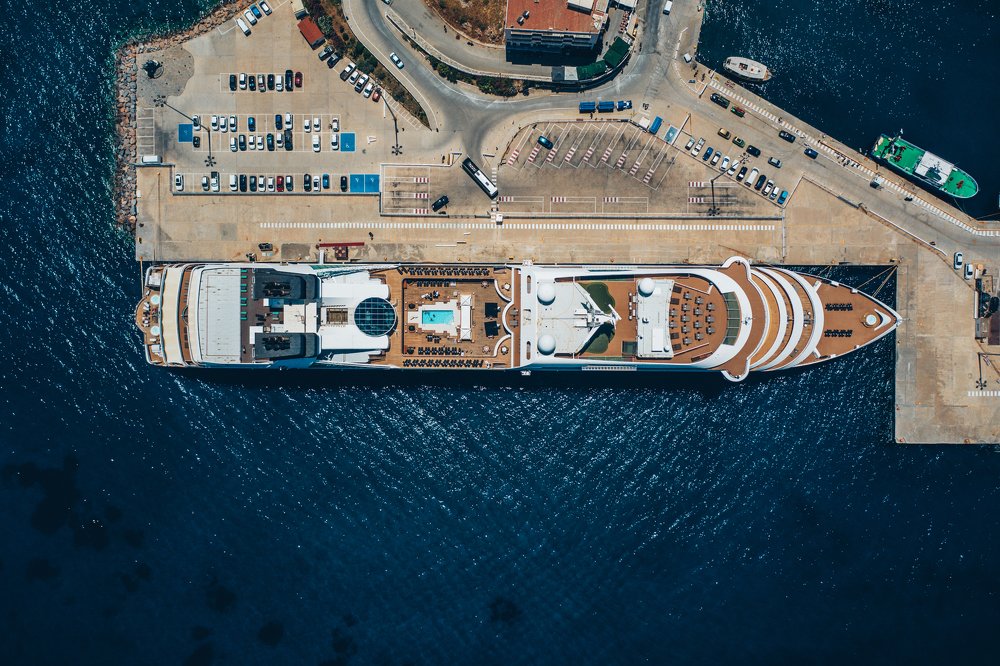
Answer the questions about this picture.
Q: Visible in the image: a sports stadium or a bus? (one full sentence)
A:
This aerial view contains a bus.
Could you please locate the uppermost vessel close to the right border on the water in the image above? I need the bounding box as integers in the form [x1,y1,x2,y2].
[869,130,979,198]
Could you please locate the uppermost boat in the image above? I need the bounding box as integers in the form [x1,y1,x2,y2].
[724,56,774,81]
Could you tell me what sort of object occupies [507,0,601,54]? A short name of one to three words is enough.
building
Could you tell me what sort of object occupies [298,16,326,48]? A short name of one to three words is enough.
shed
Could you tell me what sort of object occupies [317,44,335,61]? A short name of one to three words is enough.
vehicle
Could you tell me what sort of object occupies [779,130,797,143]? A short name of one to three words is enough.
vehicle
